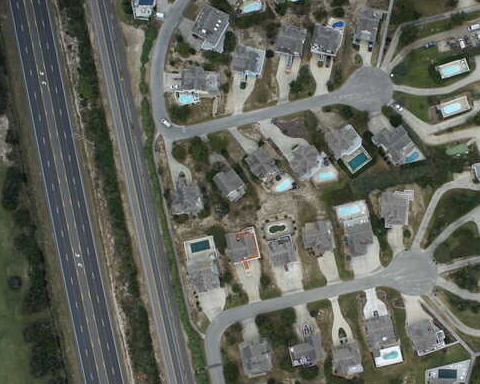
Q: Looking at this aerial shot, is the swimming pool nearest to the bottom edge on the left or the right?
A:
right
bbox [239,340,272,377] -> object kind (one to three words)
house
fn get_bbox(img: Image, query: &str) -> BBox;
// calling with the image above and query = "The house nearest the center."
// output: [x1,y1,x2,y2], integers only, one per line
[215,167,246,202]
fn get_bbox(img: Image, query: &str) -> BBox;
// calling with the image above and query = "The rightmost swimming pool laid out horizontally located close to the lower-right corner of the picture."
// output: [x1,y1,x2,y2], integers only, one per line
[427,359,471,384]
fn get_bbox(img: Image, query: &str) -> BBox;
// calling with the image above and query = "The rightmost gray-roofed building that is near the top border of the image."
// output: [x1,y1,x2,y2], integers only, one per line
[355,6,381,41]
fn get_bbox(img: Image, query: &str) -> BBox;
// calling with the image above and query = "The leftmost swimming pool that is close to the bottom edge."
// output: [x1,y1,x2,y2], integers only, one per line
[375,344,403,367]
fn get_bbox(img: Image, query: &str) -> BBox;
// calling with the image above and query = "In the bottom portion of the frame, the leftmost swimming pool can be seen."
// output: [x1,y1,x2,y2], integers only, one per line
[185,237,218,261]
